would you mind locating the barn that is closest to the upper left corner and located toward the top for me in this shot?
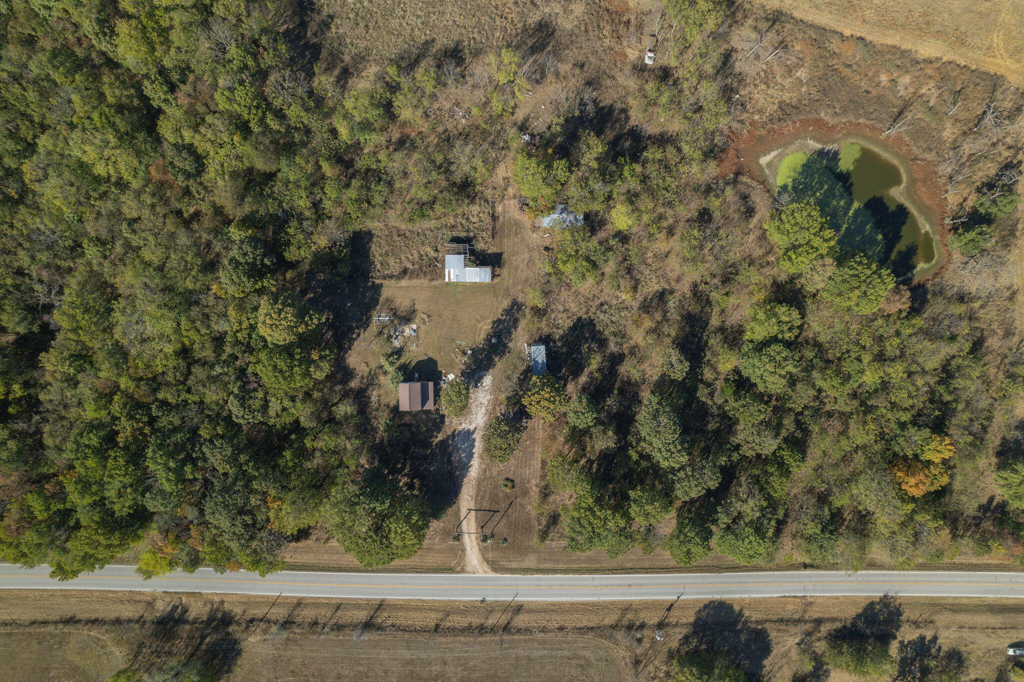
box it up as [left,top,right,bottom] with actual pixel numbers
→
[445,242,491,282]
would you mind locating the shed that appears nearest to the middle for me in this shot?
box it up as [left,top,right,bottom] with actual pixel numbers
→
[531,341,548,380]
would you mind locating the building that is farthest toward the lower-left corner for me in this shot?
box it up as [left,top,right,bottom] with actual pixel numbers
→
[399,382,434,411]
